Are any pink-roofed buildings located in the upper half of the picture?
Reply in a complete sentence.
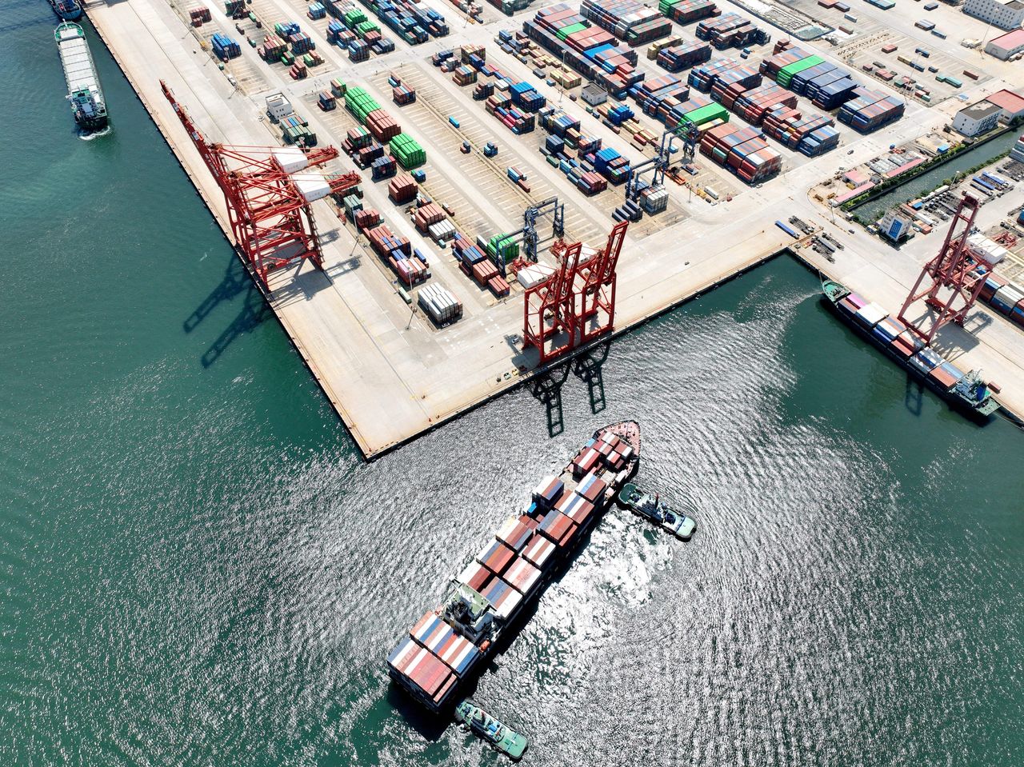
Yes, you'll find a pink-roofed building in the upper half of the picture.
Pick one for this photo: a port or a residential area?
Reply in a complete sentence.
What you see here is a port.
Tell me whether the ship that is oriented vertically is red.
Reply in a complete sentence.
No, the color of the ship that is oriented vertically is white.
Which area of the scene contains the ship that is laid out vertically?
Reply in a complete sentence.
Look in the top left portion of the view to spot the ship that is laid out vertically.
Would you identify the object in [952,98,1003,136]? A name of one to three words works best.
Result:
building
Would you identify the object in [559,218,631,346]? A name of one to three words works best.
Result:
container crane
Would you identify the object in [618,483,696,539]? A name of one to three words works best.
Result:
boat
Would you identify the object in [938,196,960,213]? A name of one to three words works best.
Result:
vehicle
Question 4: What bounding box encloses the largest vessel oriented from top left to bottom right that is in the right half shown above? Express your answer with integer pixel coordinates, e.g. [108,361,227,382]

[815,273,1023,435]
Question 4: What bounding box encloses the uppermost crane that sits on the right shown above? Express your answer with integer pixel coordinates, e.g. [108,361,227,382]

[659,119,697,164]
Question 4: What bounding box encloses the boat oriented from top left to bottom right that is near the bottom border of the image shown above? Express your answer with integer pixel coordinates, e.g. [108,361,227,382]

[452,697,529,760]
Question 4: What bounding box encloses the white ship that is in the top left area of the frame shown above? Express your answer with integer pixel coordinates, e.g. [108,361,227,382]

[56,8,109,128]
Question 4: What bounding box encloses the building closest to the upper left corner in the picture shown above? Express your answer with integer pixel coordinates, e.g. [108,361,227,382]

[264,91,296,123]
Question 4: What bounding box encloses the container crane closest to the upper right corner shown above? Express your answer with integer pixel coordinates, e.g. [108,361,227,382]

[893,199,1009,345]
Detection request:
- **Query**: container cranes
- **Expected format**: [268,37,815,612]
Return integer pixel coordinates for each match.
[495,226,535,276]
[559,218,631,346]
[178,101,361,296]
[893,199,1009,345]
[515,239,583,367]
[525,196,564,243]
[159,74,340,265]
[625,156,665,203]
[659,119,697,164]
